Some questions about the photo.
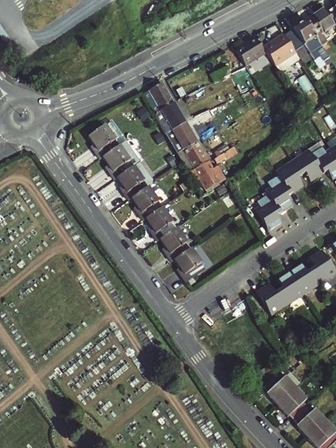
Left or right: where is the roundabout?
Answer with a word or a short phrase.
left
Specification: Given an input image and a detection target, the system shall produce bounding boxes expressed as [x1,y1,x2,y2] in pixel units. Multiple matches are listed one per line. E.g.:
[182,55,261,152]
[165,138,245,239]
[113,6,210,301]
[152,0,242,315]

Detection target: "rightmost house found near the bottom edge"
[298,405,336,448]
